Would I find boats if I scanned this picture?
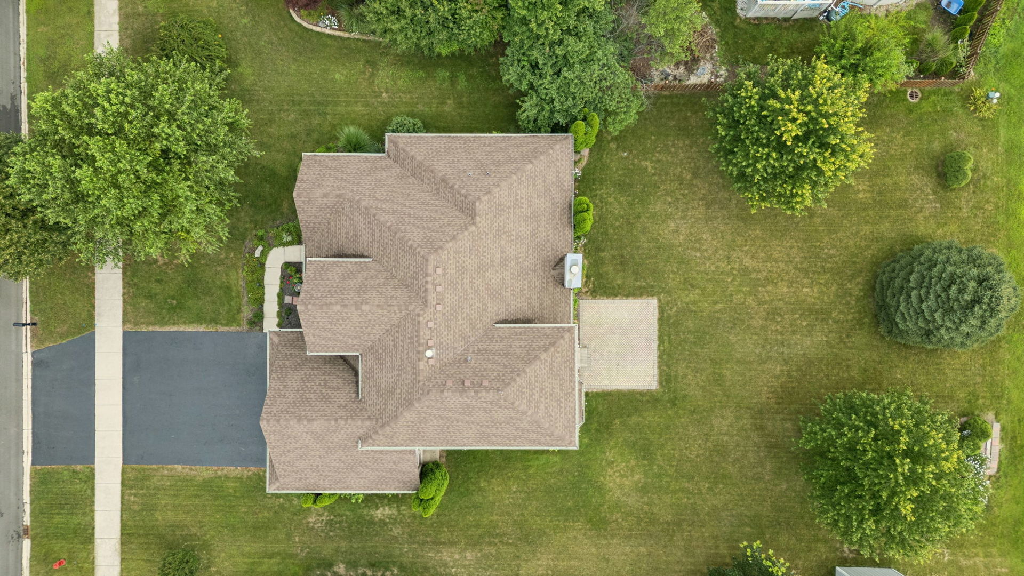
No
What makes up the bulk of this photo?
grass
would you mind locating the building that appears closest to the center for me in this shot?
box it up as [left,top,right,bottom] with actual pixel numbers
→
[261,133,585,493]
